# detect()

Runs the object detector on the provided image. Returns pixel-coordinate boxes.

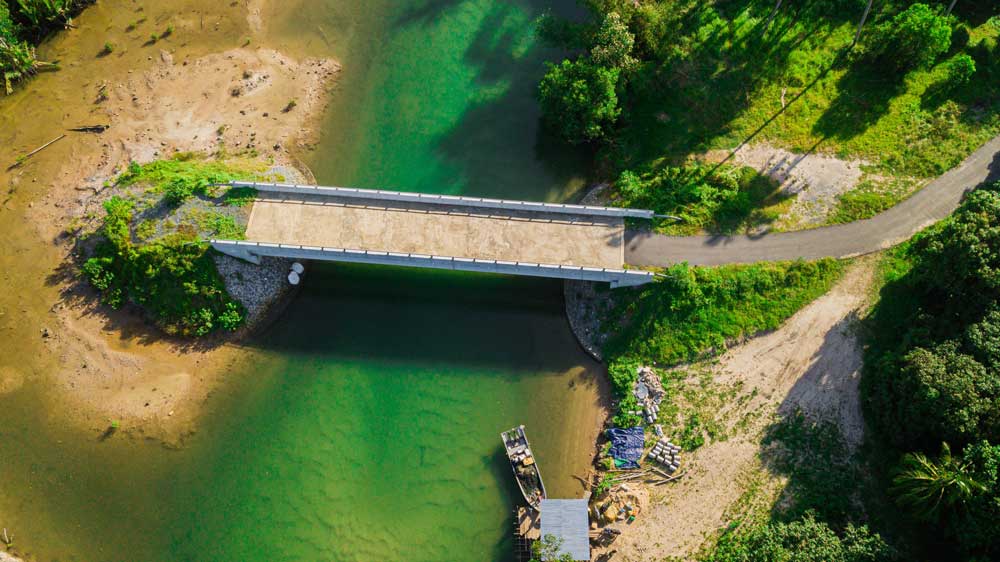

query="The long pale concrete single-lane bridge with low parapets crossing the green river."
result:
[188,180,680,289]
